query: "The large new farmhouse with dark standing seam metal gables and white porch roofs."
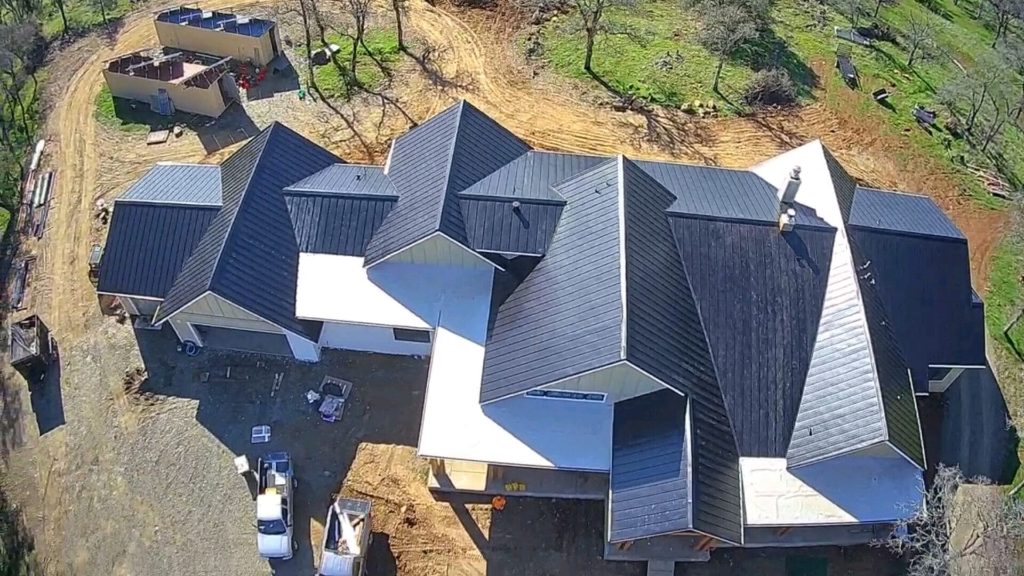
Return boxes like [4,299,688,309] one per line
[95,99,989,576]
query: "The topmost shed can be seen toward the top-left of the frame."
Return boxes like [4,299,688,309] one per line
[153,2,283,64]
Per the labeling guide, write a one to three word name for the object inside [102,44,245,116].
shed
